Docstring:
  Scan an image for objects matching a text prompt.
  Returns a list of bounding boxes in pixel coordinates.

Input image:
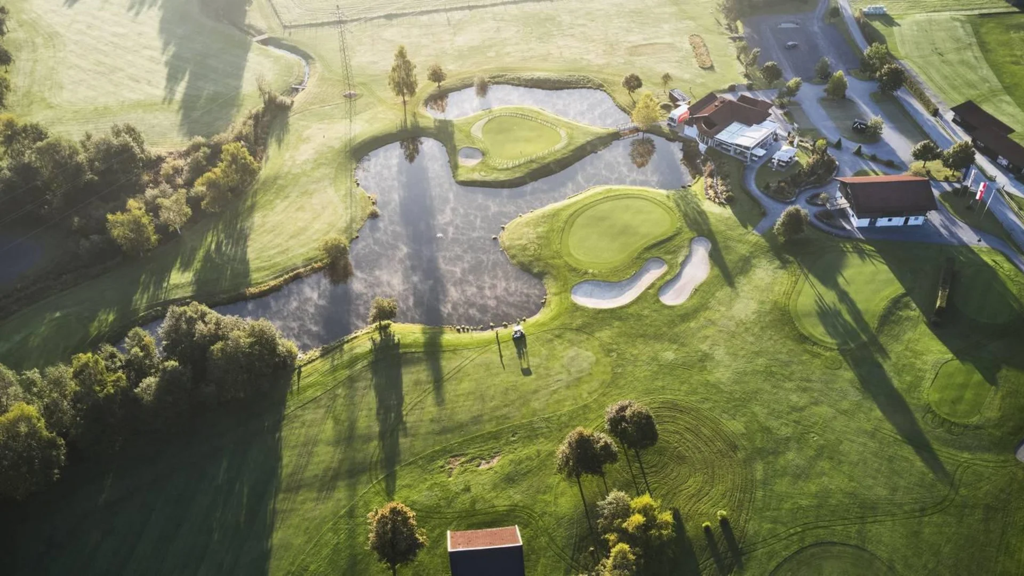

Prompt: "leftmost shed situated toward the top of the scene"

[669,88,697,106]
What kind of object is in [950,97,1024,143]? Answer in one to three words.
building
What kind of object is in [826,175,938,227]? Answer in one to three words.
barn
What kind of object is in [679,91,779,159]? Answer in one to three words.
building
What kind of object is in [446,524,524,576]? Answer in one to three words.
shed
